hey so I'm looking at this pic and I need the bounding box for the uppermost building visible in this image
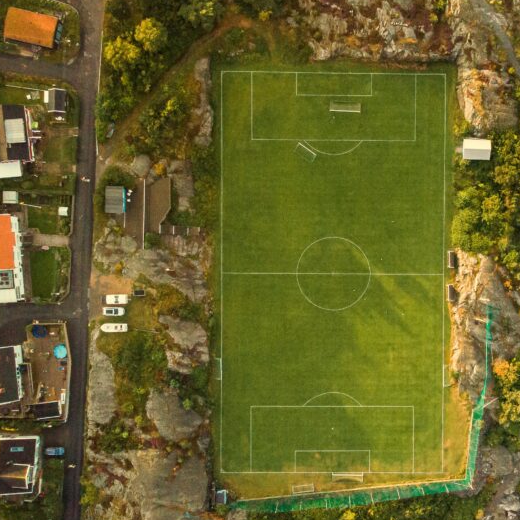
[2,7,66,49]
